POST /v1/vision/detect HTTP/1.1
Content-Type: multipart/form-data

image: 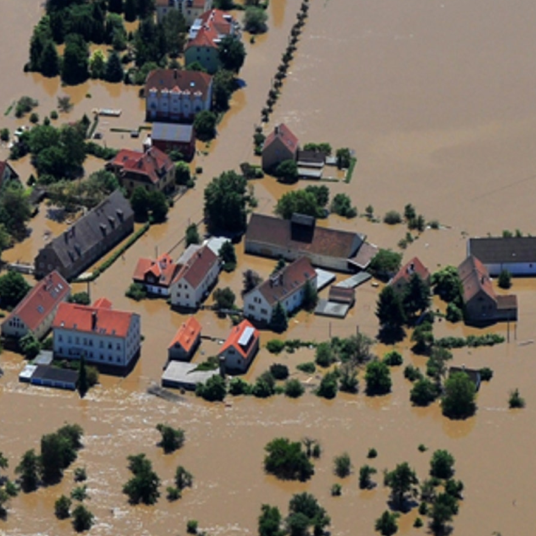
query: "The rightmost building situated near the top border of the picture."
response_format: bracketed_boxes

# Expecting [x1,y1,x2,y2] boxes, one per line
[186,9,234,69]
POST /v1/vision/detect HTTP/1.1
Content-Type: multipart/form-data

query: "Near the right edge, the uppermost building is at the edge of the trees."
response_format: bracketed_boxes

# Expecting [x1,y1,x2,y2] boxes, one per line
[465,237,536,276]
